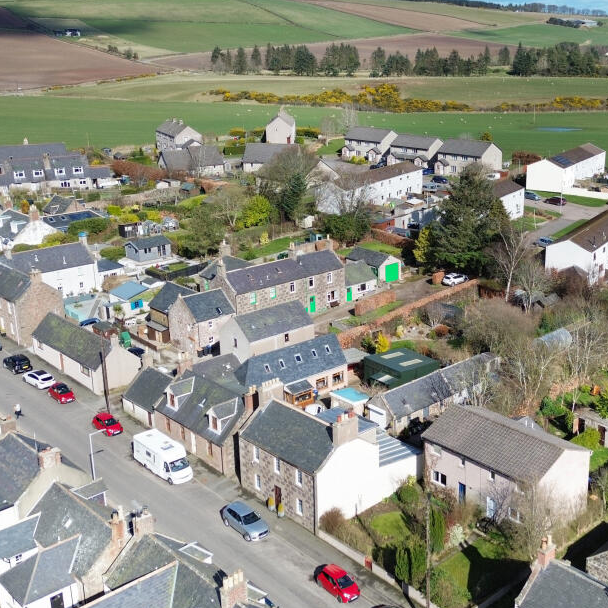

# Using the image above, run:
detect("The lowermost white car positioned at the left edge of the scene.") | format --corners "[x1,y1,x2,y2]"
[26,370,52,389]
